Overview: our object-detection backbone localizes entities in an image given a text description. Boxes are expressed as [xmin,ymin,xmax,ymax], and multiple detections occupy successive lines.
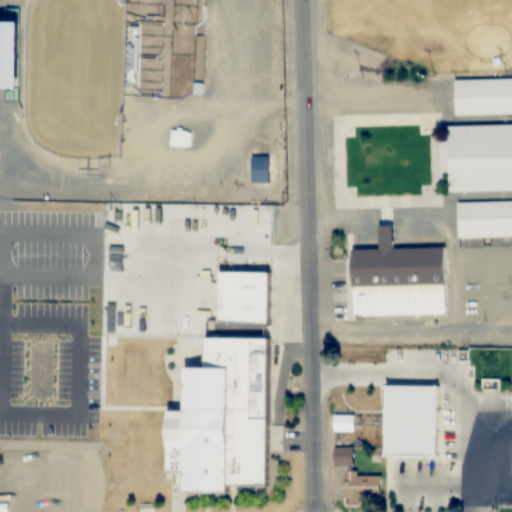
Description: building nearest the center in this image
[218,271,270,322]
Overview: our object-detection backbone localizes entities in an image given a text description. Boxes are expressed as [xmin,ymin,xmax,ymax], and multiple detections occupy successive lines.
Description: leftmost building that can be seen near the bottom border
[164,338,270,492]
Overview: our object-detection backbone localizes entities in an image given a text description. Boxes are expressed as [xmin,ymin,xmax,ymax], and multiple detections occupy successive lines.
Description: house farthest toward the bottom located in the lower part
[344,470,382,508]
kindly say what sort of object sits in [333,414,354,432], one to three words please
building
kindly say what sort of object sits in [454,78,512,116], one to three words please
barn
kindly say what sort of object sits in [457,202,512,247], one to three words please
barn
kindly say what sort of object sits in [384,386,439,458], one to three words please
building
